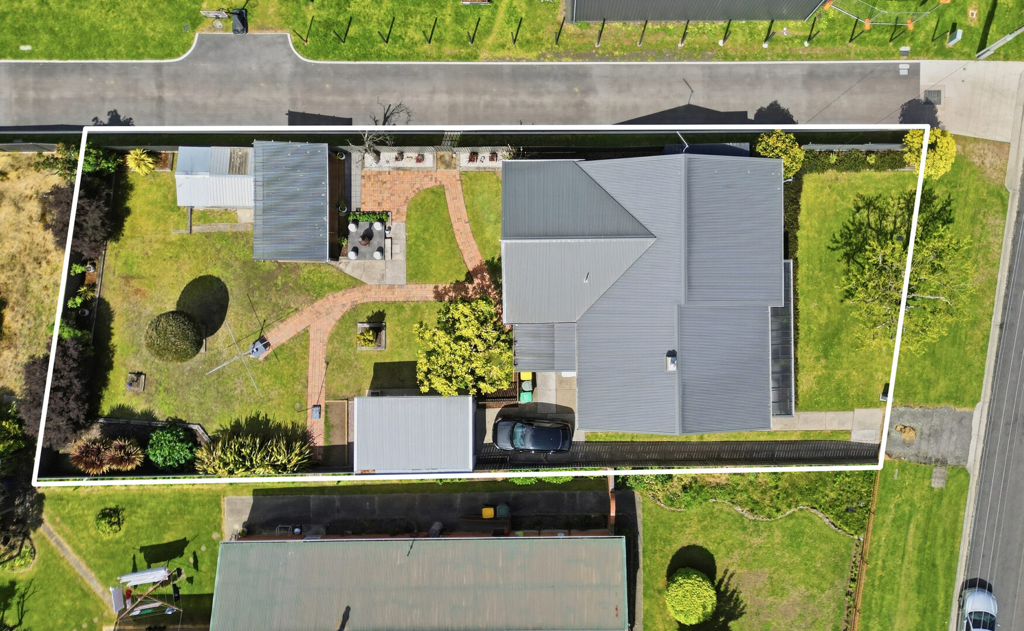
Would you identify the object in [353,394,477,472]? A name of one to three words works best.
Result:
building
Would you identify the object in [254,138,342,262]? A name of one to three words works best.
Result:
shed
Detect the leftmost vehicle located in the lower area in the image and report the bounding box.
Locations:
[493,414,573,456]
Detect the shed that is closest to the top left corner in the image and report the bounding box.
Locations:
[170,146,254,208]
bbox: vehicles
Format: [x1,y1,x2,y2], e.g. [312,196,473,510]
[493,414,573,456]
[961,585,1006,631]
